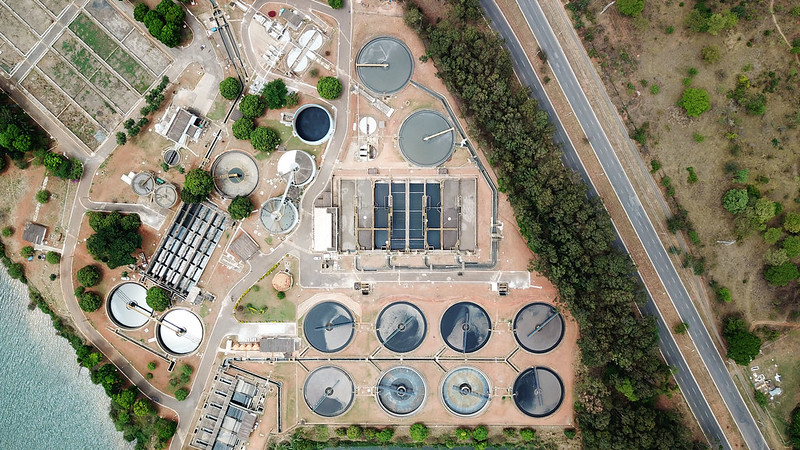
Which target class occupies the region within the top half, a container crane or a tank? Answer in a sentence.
The one visible within the top half is a tank.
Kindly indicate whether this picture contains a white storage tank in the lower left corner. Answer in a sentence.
Yes, looking in the lower left corner, one can make out a white storage tank.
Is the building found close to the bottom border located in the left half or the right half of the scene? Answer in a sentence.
The building found close to the bottom border appears in the left half of the scene.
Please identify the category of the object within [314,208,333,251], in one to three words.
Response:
building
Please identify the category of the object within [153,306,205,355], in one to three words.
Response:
storage tank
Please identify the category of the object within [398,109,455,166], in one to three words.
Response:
storage tank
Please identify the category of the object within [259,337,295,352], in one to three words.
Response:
shed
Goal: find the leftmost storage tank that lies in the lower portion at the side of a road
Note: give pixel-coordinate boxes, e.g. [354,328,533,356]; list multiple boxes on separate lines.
[103,280,153,330]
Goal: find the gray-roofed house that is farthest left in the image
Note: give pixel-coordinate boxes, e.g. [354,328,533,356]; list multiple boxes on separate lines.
[23,223,48,245]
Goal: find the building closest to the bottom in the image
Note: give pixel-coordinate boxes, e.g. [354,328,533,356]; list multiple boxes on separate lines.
[181,366,271,450]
